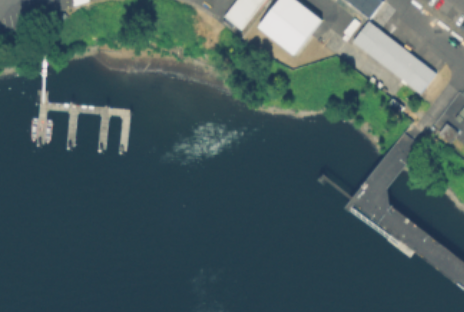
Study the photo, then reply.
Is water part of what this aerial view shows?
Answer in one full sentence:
Yes, some water is visible.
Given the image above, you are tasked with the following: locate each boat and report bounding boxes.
[31,116,38,142]
[46,118,53,142]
